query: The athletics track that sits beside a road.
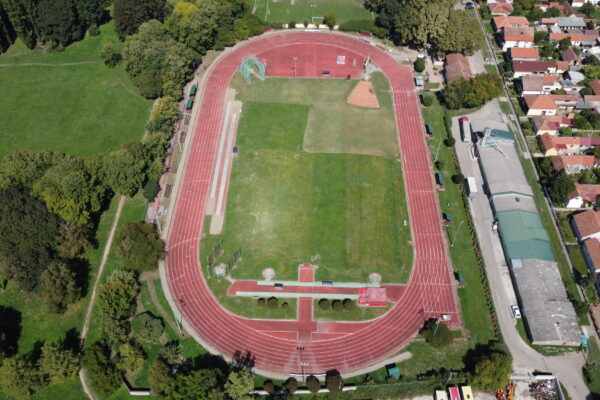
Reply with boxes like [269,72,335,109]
[159,30,468,383]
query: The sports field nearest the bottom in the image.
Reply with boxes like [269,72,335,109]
[198,51,414,322]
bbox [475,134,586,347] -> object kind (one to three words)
warehouse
